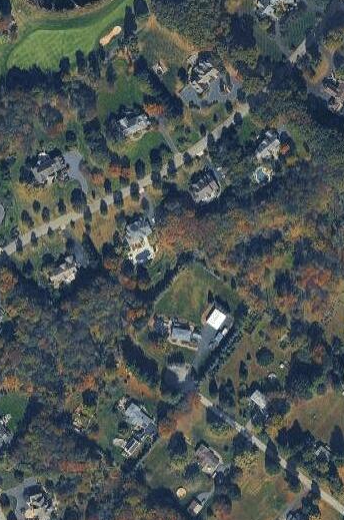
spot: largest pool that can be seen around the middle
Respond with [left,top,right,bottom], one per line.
[127,241,156,265]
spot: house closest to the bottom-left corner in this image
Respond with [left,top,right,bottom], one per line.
[28,493,52,520]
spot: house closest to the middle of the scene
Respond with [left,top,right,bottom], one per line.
[124,217,155,245]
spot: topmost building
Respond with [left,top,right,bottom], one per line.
[262,0,296,19]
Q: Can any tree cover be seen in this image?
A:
Yes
